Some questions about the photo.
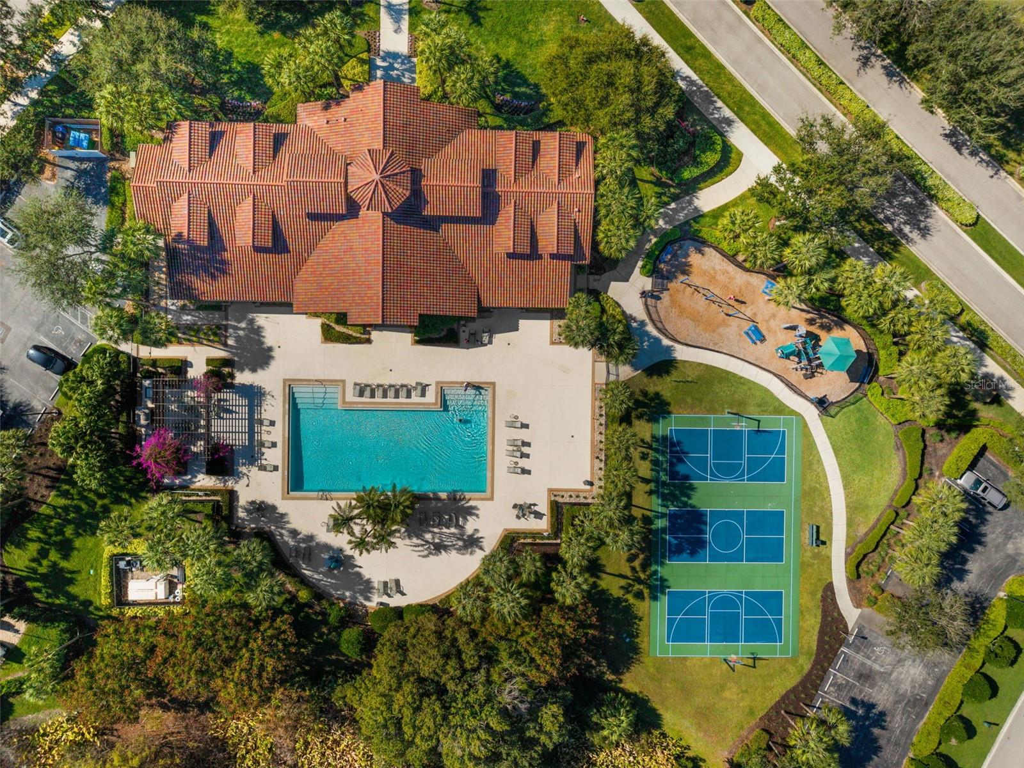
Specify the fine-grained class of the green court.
basketball court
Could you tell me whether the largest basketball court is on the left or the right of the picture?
right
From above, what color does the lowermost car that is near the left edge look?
black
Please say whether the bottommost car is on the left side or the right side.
right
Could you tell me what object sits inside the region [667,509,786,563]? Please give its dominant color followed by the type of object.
blue sports court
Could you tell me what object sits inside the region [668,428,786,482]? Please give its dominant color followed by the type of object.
blue sports court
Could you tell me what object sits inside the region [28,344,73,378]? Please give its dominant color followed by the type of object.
black car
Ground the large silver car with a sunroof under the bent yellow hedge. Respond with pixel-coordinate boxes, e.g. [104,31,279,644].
[954,471,1009,512]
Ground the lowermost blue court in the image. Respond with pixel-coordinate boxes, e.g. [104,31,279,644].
[666,590,784,644]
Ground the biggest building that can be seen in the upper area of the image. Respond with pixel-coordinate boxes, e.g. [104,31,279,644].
[130,81,593,326]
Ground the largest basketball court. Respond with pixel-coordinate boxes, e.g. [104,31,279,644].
[650,415,803,657]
